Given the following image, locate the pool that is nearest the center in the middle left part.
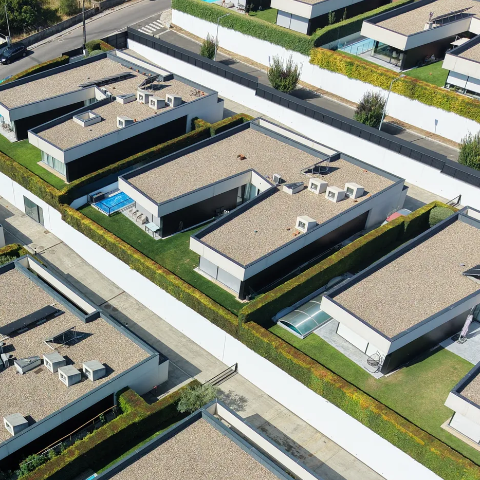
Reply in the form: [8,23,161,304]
[91,186,135,215]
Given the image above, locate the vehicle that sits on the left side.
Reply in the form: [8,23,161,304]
[2,44,24,61]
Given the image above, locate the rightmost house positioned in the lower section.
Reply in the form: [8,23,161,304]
[325,208,480,448]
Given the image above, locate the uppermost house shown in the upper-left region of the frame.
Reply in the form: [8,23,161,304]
[0,50,222,182]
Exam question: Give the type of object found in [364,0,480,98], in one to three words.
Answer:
house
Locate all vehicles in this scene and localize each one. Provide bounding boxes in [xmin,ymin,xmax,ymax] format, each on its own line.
[2,44,24,61]
[381,207,408,222]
